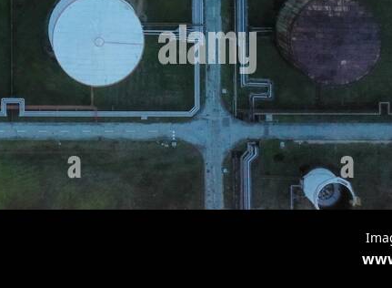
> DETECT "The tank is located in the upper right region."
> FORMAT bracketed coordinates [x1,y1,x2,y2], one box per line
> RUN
[274,0,382,84]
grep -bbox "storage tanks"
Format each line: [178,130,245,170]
[299,164,360,219]
[274,0,382,84]
[45,0,145,86]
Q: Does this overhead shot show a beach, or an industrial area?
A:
industrial area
